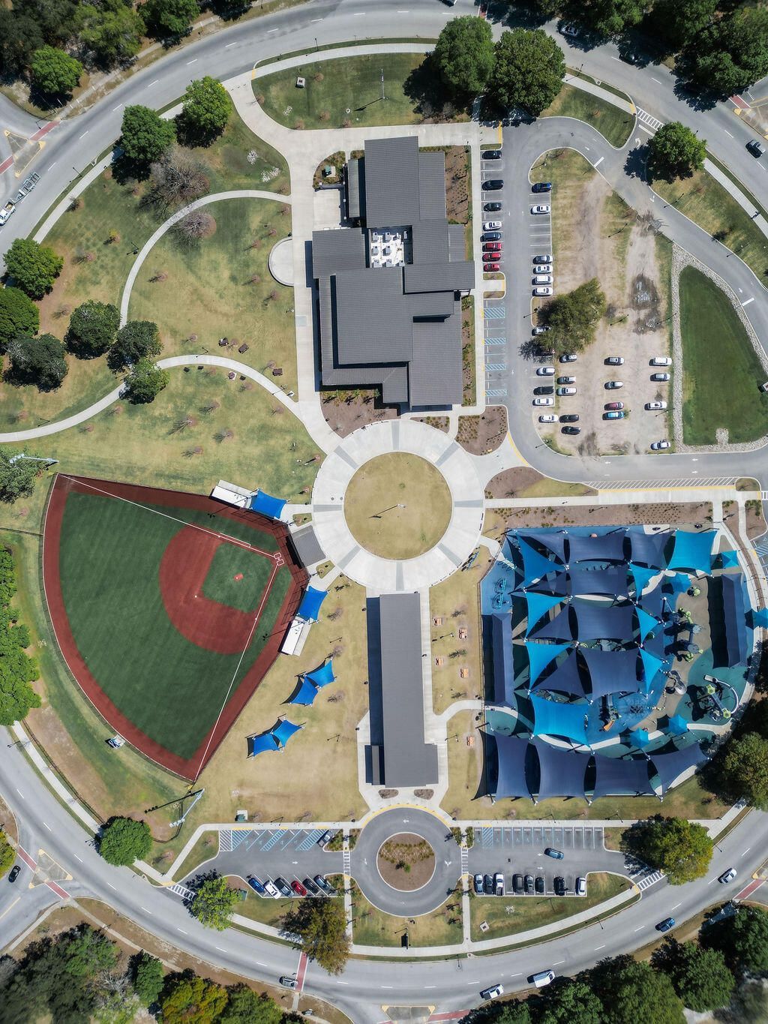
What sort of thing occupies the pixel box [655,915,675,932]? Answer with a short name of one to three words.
car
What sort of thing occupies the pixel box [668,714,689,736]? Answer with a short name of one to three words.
umbrella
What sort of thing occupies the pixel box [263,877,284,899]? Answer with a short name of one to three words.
truck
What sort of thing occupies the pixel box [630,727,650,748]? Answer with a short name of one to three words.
umbrella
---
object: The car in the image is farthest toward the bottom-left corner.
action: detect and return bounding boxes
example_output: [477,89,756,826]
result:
[10,862,22,883]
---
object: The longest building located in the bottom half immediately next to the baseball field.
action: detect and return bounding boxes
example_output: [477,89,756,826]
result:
[372,593,438,788]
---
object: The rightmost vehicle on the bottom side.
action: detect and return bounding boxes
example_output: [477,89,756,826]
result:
[717,866,736,883]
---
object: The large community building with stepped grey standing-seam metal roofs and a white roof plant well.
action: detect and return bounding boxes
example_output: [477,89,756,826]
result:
[312,136,475,410]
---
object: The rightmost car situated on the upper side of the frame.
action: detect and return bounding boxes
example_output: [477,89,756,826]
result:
[745,140,764,159]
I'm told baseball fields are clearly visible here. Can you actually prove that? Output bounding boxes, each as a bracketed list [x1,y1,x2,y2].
[43,474,308,781]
